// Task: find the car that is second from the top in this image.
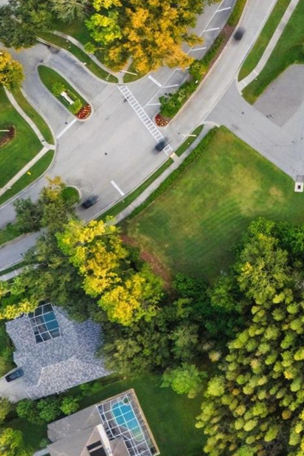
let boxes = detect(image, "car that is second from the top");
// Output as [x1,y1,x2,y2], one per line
[150,137,169,154]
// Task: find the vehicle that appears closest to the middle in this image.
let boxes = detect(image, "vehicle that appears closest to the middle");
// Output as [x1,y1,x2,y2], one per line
[80,194,99,209]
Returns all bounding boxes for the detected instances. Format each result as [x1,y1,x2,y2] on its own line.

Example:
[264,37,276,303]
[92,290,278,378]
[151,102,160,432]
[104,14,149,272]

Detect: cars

[150,137,169,154]
[231,25,246,43]
[80,194,99,209]
[3,366,24,381]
